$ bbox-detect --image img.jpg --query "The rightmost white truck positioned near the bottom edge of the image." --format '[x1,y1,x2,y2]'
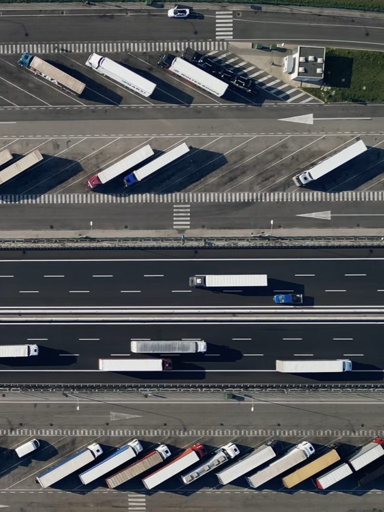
[311,436,384,489]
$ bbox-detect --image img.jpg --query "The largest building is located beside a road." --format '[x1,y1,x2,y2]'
[291,45,326,81]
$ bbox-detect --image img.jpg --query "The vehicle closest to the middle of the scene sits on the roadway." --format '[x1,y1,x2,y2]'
[185,275,267,288]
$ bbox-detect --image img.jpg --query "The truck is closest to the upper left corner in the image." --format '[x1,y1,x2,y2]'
[15,53,85,98]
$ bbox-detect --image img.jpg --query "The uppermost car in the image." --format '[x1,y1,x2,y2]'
[168,5,190,17]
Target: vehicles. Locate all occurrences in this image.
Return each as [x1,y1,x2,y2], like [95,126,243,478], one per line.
[240,82,258,96]
[289,140,367,190]
[177,440,241,484]
[192,59,211,73]
[185,275,267,288]
[208,66,226,81]
[0,150,43,184]
[36,440,103,488]
[102,443,170,489]
[15,53,85,98]
[275,359,351,372]
[311,436,384,489]
[277,440,344,488]
[119,142,191,190]
[273,294,303,304]
[82,54,156,98]
[0,344,39,358]
[168,5,190,17]
[81,144,155,193]
[152,54,227,98]
[0,149,14,166]
[140,442,207,489]
[130,339,207,353]
[224,75,243,89]
[242,439,314,488]
[14,438,41,458]
[214,439,284,485]
[77,437,143,485]
[351,456,384,487]
[99,358,172,371]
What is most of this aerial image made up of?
paved ground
